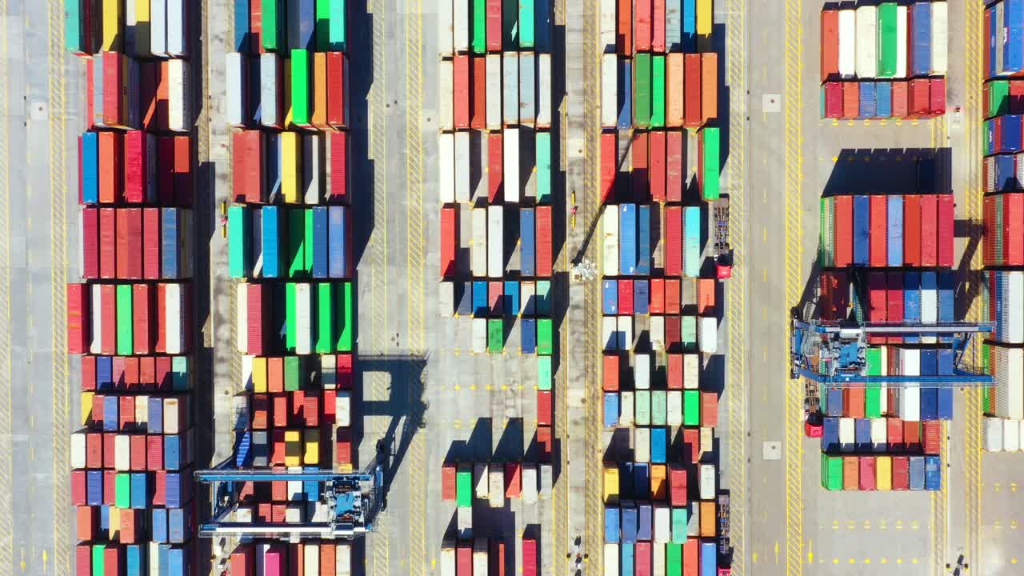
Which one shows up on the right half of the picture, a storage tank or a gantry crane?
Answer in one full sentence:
Visible on the right half of the picture is a gantry crane.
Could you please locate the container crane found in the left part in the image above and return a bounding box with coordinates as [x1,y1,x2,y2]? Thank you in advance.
[196,445,386,539]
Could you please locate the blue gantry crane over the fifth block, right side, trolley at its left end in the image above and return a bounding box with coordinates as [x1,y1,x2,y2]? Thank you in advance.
[788,302,996,388]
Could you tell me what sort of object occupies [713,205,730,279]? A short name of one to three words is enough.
vehicle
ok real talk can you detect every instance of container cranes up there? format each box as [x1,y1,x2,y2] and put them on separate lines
[196,445,386,539]
[788,302,996,388]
